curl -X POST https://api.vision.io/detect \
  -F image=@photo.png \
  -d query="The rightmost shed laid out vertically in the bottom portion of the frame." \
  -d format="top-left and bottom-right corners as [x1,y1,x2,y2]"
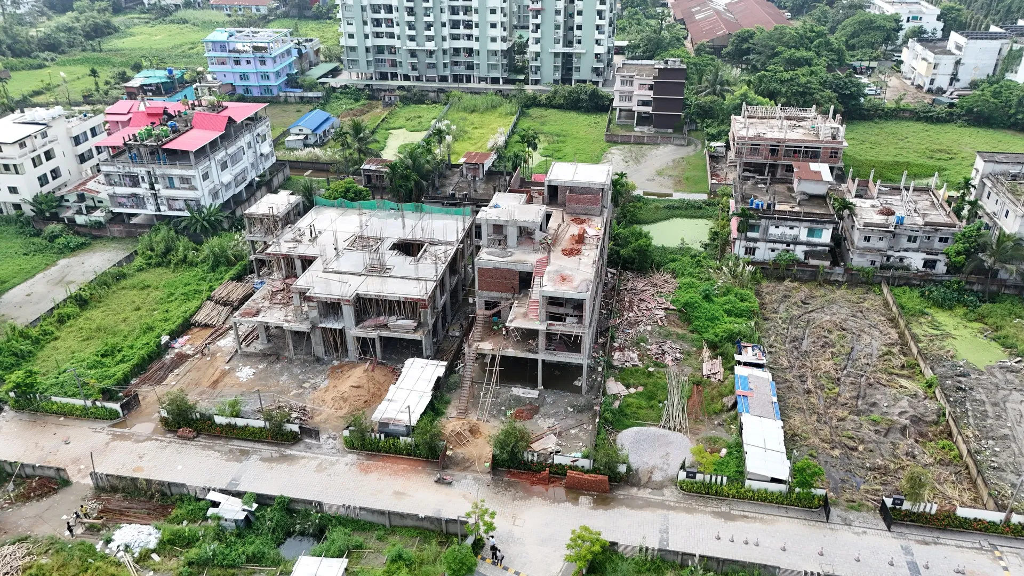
[729,364,794,486]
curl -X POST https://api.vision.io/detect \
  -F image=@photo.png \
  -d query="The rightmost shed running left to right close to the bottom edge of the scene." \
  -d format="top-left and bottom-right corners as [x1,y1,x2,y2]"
[290,548,348,576]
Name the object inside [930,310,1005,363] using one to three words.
pond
